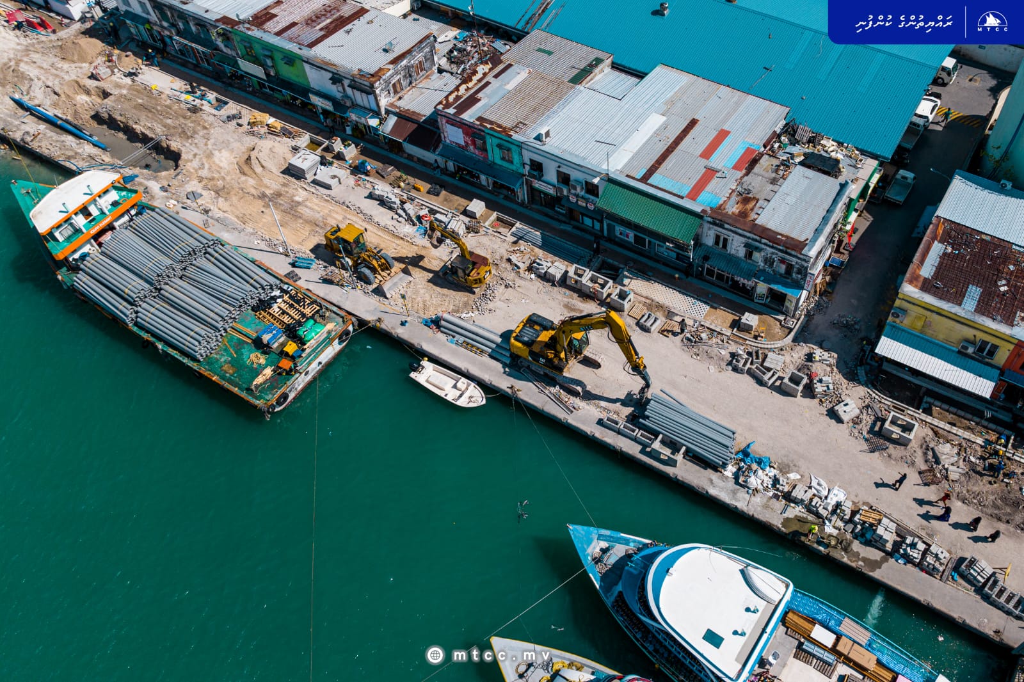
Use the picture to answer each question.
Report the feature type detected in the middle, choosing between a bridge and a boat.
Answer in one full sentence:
It is a boat that can be seen in the middle.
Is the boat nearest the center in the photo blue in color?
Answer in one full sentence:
No, the boat nearest the center is white.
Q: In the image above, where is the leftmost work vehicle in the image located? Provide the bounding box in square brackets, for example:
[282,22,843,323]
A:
[330,223,418,301]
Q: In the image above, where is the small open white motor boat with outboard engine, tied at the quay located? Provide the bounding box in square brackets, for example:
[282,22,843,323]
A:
[407,358,485,410]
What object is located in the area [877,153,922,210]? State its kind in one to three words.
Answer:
truck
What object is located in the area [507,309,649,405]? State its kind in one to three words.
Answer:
work vehicle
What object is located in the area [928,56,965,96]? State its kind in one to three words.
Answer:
truck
